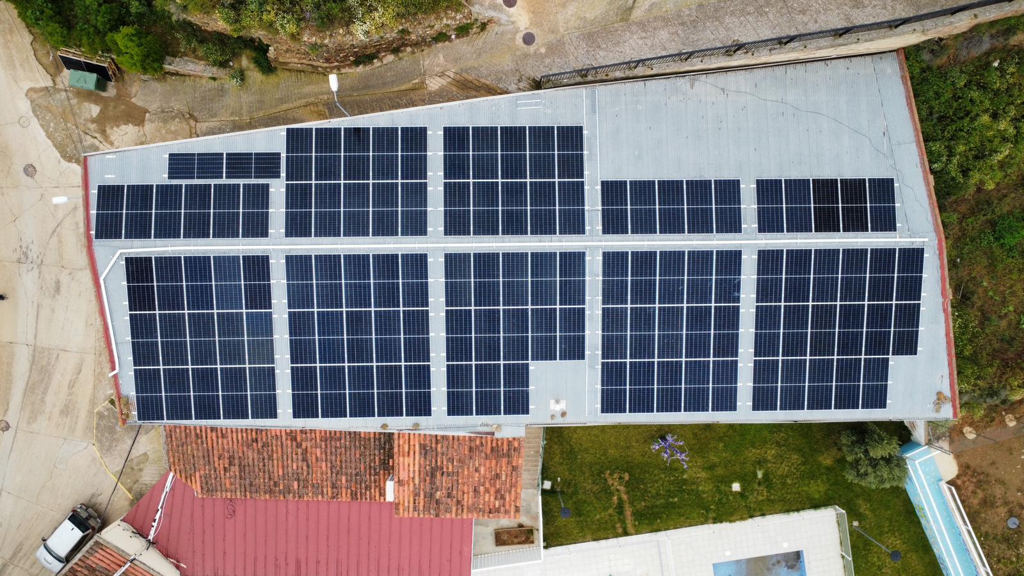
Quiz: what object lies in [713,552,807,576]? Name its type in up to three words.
swimming pool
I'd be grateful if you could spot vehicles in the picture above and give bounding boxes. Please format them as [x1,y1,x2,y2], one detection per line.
[41,500,106,565]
